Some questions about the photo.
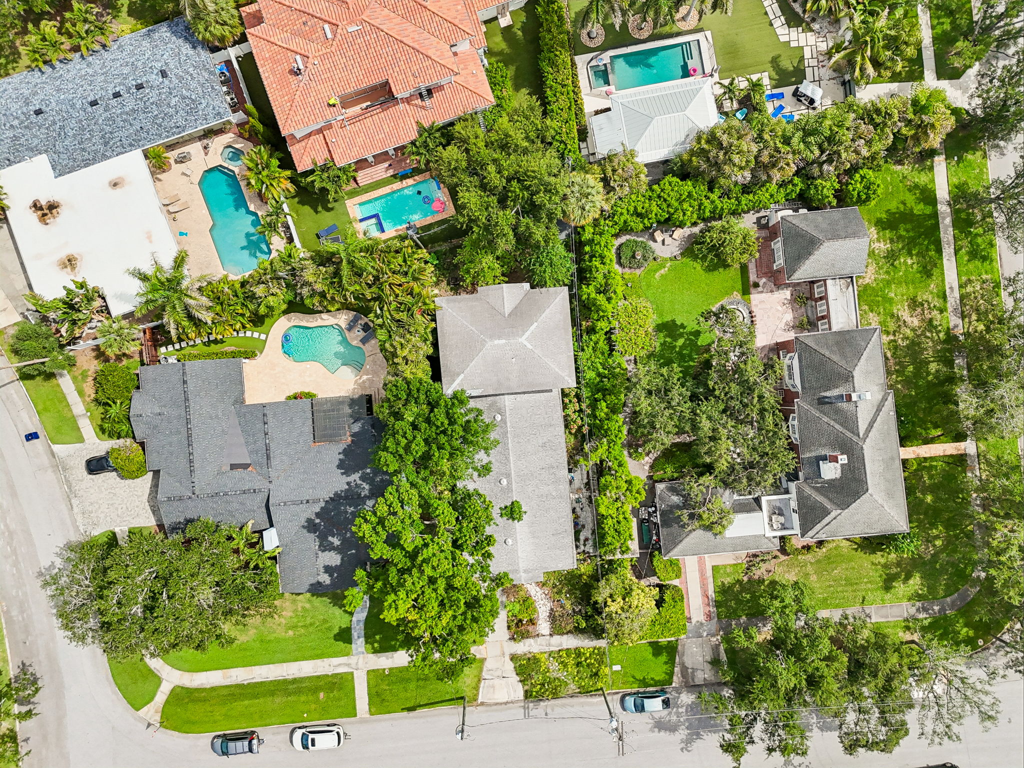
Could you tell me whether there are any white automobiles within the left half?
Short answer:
Yes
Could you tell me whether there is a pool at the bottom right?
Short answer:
No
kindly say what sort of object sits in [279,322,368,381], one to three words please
swimming pool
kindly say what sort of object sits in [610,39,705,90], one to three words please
swimming pool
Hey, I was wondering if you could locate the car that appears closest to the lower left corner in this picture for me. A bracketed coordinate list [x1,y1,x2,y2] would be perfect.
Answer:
[209,729,263,760]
